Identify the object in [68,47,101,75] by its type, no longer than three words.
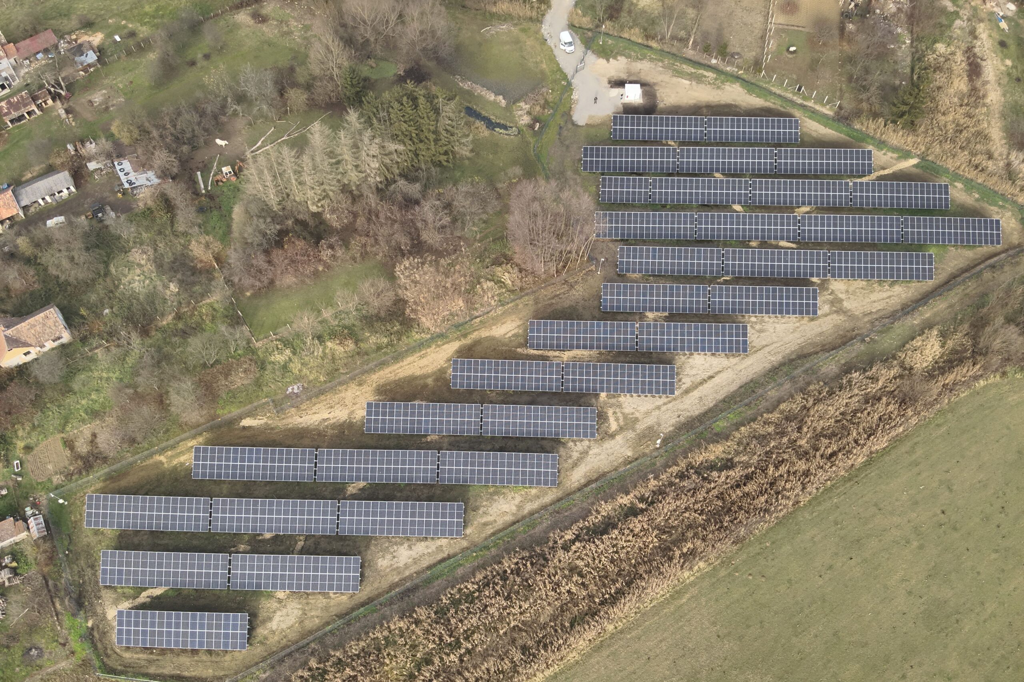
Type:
shed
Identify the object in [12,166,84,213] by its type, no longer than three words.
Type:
barn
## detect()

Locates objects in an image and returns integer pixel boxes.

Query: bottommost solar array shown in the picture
[113,610,250,651]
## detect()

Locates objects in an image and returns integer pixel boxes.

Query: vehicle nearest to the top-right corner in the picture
[562,30,577,52]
